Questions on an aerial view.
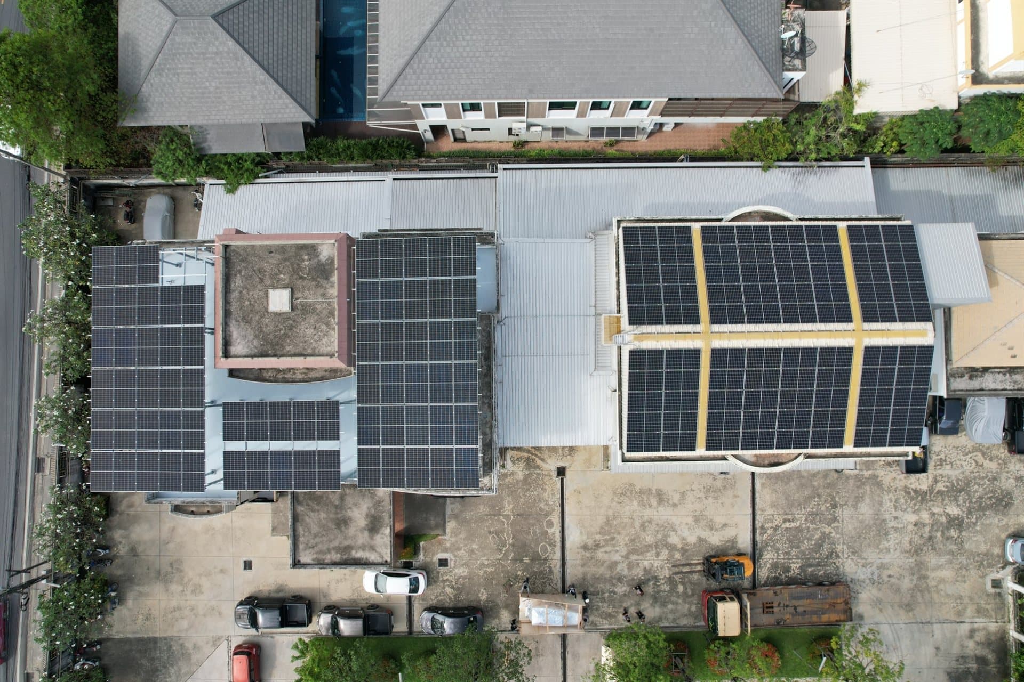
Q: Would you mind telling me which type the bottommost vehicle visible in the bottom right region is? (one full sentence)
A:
Specifically, the bottommost vehicle visible in the bottom right region is a truck.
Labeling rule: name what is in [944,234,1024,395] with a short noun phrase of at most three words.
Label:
building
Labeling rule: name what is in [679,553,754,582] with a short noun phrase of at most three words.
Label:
work vehicle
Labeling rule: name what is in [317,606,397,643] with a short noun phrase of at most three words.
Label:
truck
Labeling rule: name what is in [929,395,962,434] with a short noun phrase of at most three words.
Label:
car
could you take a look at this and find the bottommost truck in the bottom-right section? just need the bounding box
[697,580,856,641]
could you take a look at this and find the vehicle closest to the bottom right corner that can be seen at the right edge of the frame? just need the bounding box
[1000,535,1024,565]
